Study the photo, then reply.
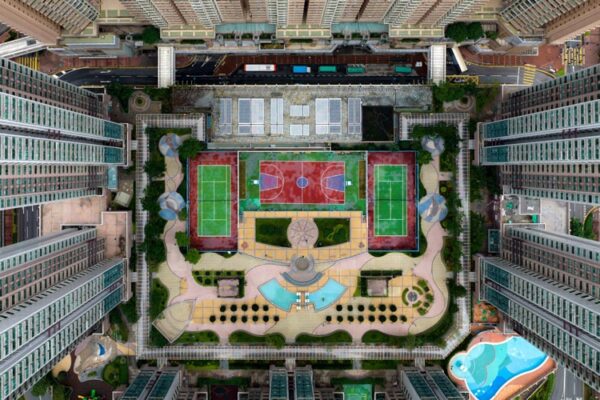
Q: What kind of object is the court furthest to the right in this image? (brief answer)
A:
tennis court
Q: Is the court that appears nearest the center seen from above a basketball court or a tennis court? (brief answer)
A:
basketball court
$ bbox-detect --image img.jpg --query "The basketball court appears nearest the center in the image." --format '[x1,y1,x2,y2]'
[238,150,368,212]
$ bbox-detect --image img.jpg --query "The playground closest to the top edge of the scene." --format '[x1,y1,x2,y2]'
[74,335,115,372]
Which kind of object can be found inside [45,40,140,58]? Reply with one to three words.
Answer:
building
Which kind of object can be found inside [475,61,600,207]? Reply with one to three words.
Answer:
building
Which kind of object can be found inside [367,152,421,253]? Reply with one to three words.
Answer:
tennis court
